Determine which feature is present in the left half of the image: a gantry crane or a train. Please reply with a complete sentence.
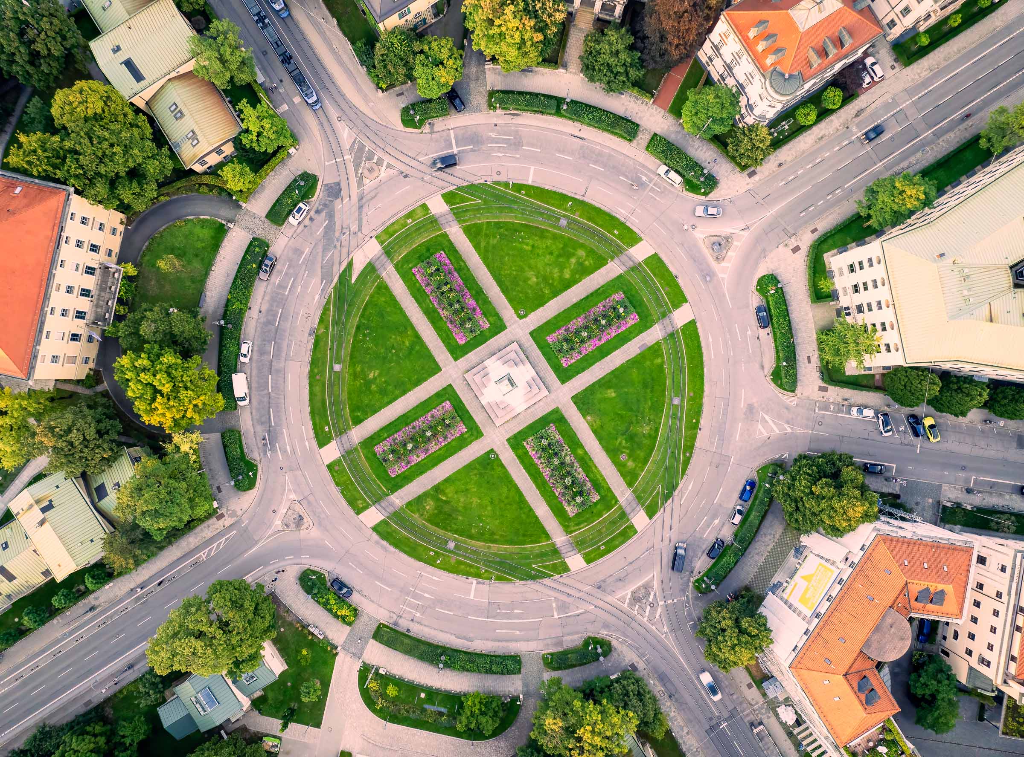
Looking in the left half of the image, you will find a train.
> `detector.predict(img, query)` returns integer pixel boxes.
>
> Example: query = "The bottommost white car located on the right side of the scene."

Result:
[701,671,720,700]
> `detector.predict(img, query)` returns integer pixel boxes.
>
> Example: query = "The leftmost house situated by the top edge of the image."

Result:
[81,0,249,172]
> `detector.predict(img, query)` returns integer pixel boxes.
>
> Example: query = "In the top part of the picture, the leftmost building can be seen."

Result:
[0,172,131,384]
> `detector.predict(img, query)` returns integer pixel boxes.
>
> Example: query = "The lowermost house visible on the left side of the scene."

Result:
[161,651,291,741]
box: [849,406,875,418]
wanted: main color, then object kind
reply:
white vehicle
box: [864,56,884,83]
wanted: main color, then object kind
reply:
white car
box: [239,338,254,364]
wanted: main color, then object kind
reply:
white car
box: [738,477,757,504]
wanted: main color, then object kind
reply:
blue car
